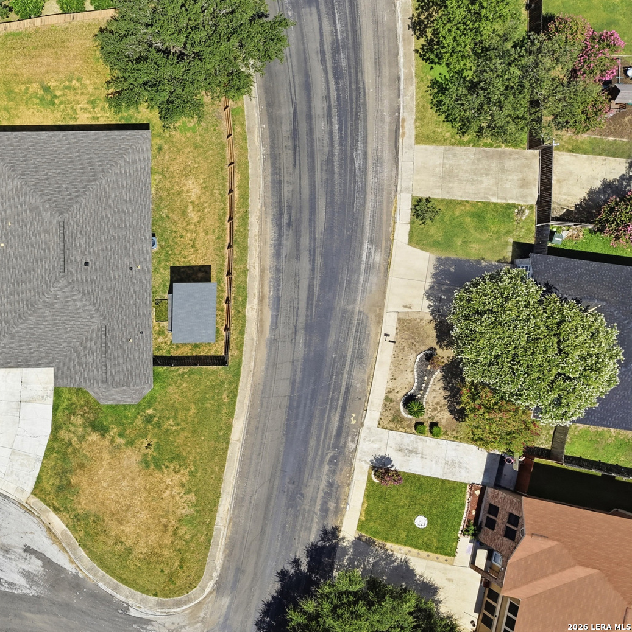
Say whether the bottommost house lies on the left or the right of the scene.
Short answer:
right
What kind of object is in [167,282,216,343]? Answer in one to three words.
shed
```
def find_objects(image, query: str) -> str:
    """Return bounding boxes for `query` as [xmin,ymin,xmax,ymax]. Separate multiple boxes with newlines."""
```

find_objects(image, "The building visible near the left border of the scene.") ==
[0,130,153,407]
